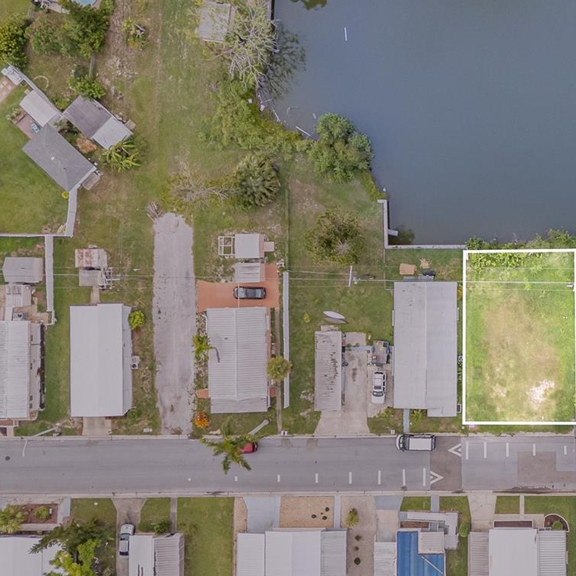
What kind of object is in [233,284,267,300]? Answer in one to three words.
car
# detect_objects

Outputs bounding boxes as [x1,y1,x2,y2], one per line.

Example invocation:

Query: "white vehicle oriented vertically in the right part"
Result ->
[371,369,387,405]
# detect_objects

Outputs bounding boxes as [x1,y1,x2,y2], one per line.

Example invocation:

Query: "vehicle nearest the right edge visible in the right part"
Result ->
[397,433,437,451]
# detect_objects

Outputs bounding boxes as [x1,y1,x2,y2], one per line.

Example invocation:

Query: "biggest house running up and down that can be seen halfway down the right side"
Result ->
[394,276,460,416]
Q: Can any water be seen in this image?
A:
Yes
